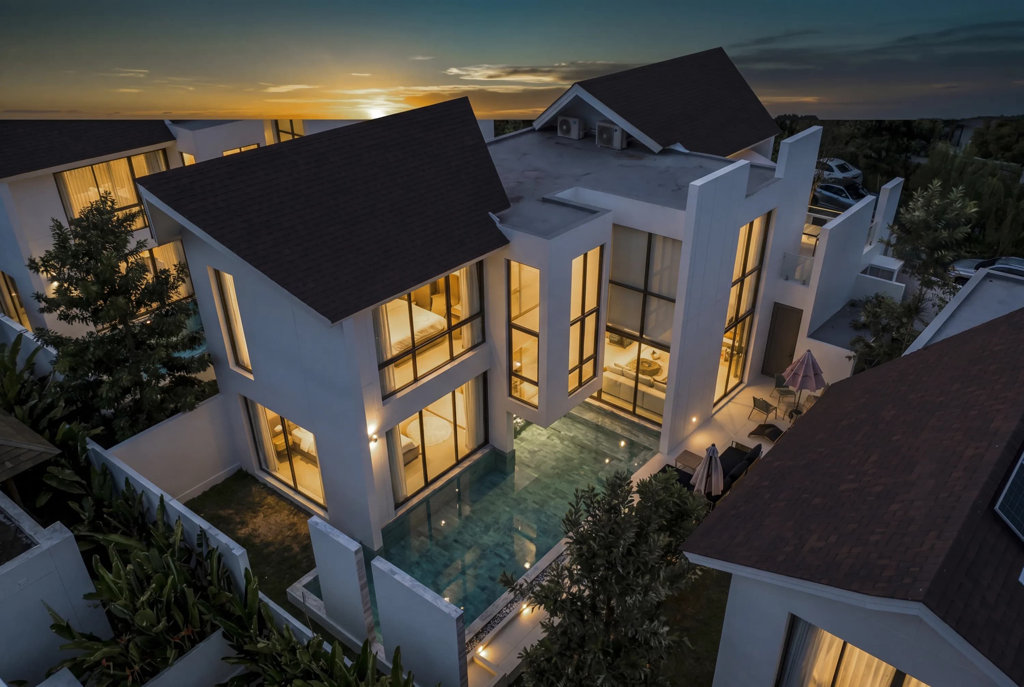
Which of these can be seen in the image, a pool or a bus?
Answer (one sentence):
Of the two, only a pool appears.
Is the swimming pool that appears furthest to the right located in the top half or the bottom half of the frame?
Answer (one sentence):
It is in the bottom half that the swimming pool that appears furthest to the right appears.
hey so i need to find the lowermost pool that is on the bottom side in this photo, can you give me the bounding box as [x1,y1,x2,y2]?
[287,396,663,687]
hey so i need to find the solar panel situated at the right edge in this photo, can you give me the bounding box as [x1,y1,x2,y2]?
[994,446,1024,546]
